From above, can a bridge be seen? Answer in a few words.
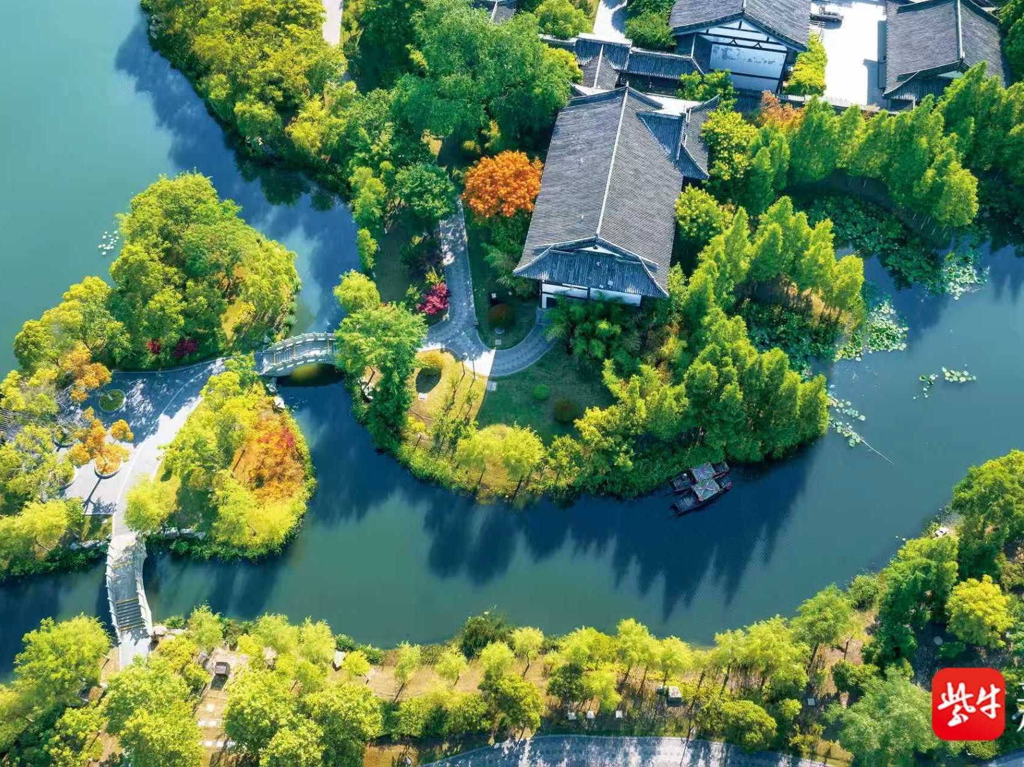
Yes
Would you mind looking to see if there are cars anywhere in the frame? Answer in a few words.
No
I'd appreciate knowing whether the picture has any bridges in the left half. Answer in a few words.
Yes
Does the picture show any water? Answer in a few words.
Yes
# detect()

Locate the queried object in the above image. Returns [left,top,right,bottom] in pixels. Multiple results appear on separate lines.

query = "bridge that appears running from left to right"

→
[251,334,389,381]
